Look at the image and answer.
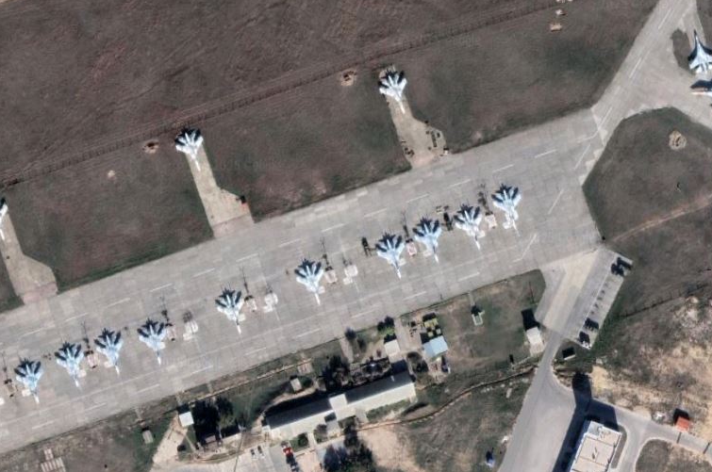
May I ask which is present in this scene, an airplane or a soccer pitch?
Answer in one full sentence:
This aerial view contains an airplane.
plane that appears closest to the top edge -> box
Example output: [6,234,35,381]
[690,36,712,76]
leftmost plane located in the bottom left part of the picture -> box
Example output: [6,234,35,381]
[16,362,44,403]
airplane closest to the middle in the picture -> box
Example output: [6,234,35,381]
[377,237,405,278]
